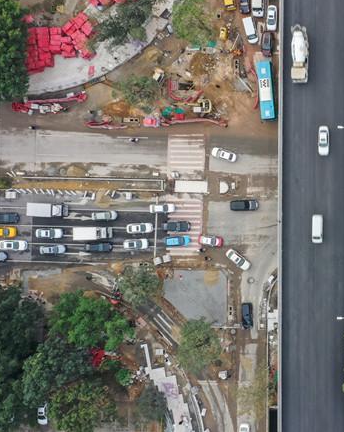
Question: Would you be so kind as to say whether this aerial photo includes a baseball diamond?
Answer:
No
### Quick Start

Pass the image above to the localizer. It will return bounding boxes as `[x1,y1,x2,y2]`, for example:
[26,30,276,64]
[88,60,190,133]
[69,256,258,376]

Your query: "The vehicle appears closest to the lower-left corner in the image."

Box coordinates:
[35,401,50,427]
